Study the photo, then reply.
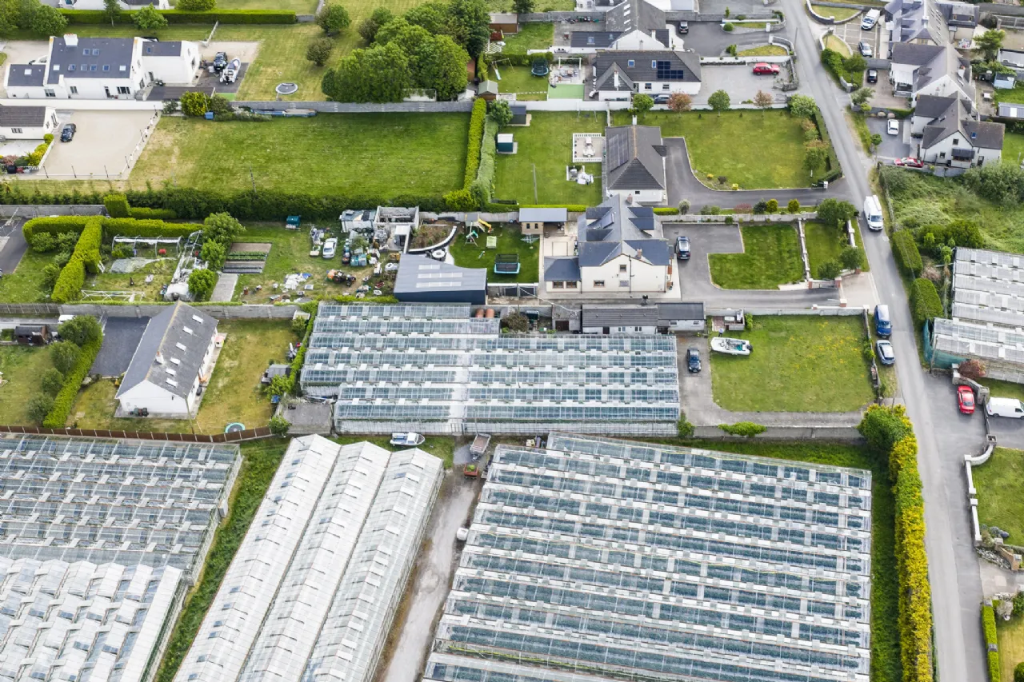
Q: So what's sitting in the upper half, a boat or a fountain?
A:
boat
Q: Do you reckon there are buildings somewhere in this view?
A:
Yes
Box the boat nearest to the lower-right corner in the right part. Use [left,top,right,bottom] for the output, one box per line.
[706,336,755,353]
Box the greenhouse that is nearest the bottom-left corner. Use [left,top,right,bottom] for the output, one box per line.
[0,551,188,682]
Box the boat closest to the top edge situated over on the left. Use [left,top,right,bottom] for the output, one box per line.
[222,58,238,81]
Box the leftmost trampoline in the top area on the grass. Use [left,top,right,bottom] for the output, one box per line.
[275,82,298,94]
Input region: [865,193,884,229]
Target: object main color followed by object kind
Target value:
white vehicle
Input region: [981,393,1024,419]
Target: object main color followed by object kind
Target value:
white vehicle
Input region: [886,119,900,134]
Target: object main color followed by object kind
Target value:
white car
